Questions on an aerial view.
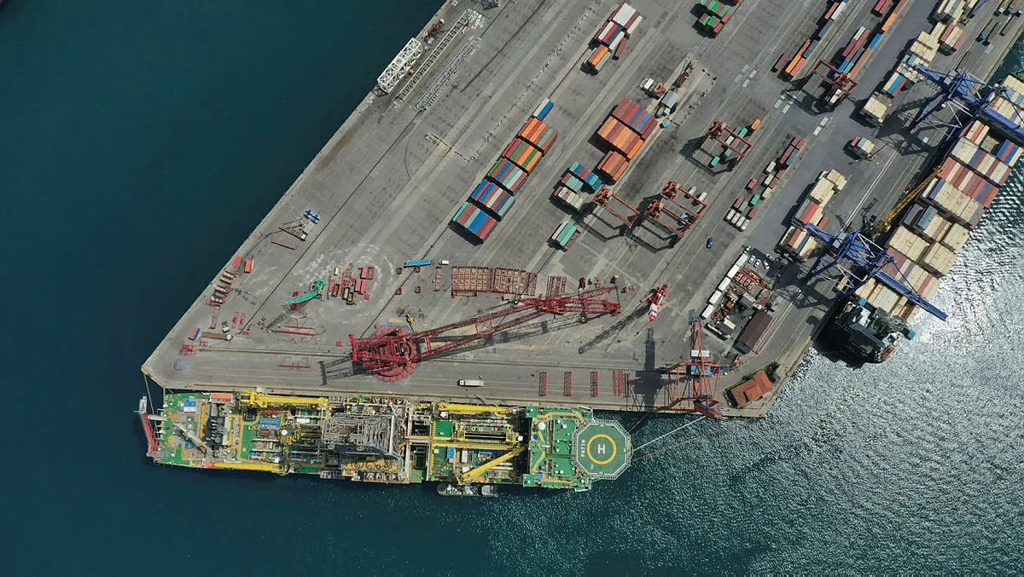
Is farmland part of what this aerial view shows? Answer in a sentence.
No, farmland can't be seen anywhere here.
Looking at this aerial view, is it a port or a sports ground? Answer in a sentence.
This image shows a port.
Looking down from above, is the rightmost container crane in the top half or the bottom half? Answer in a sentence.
The rightmost container crane sits in the top half of the picture.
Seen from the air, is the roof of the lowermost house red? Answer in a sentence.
Yes, the roof of the lowermost house appears red.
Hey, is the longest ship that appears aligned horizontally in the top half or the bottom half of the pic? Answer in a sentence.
The bottom half of the photo is where the longest ship that appears aligned horizontally is.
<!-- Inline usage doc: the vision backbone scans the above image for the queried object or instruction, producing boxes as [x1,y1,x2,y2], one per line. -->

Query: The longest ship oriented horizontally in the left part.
[135,389,636,492]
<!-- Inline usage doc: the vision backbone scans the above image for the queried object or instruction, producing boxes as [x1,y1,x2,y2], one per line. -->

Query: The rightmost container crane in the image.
[909,59,1024,145]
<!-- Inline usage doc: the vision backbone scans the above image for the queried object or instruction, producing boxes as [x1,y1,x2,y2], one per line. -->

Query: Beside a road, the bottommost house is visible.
[725,367,777,408]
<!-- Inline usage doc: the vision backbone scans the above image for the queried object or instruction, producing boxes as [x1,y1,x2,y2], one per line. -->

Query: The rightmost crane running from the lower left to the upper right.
[862,167,940,240]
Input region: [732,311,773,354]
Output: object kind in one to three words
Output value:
building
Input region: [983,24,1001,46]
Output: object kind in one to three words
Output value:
vehicle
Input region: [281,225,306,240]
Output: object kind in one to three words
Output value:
vehicle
